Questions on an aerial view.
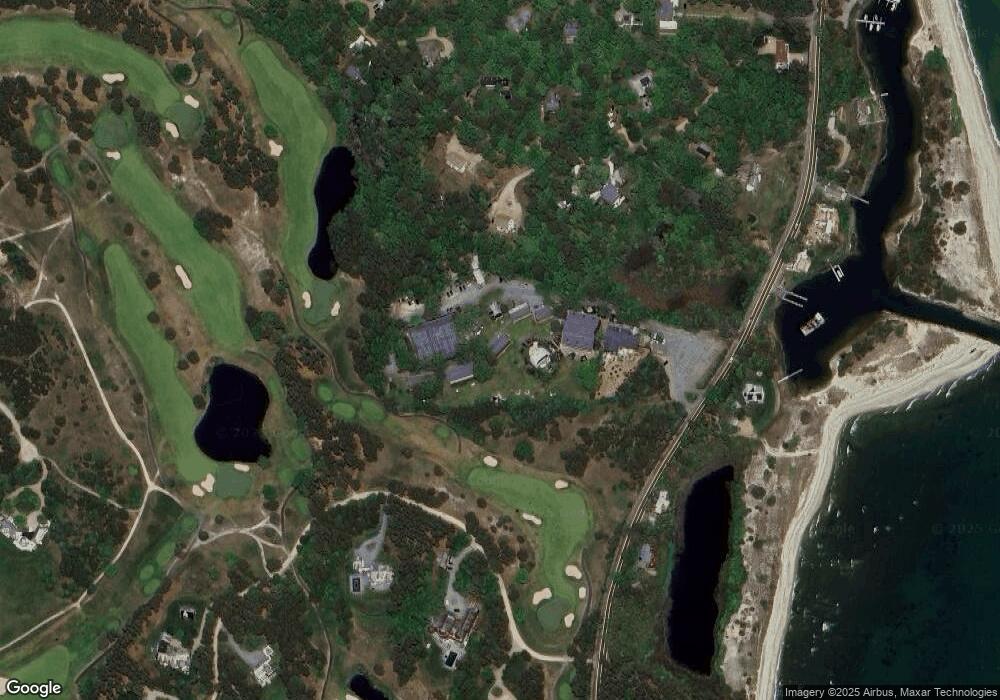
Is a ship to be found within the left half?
No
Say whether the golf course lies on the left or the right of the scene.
left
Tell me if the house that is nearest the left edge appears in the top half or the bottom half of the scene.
bottom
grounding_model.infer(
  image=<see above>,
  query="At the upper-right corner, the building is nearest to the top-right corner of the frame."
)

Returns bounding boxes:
[857,98,887,123]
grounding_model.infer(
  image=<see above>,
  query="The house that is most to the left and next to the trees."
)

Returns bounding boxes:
[0,512,50,554]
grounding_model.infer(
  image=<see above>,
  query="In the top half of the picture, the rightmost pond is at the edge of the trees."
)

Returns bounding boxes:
[309,147,357,279]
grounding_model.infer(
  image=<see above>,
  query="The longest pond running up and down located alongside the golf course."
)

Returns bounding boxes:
[669,466,732,673]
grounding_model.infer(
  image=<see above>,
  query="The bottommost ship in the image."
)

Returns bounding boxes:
[800,312,825,337]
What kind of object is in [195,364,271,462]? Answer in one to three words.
pond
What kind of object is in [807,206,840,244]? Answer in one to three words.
house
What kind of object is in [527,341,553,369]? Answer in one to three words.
building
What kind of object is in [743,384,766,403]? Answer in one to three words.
house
